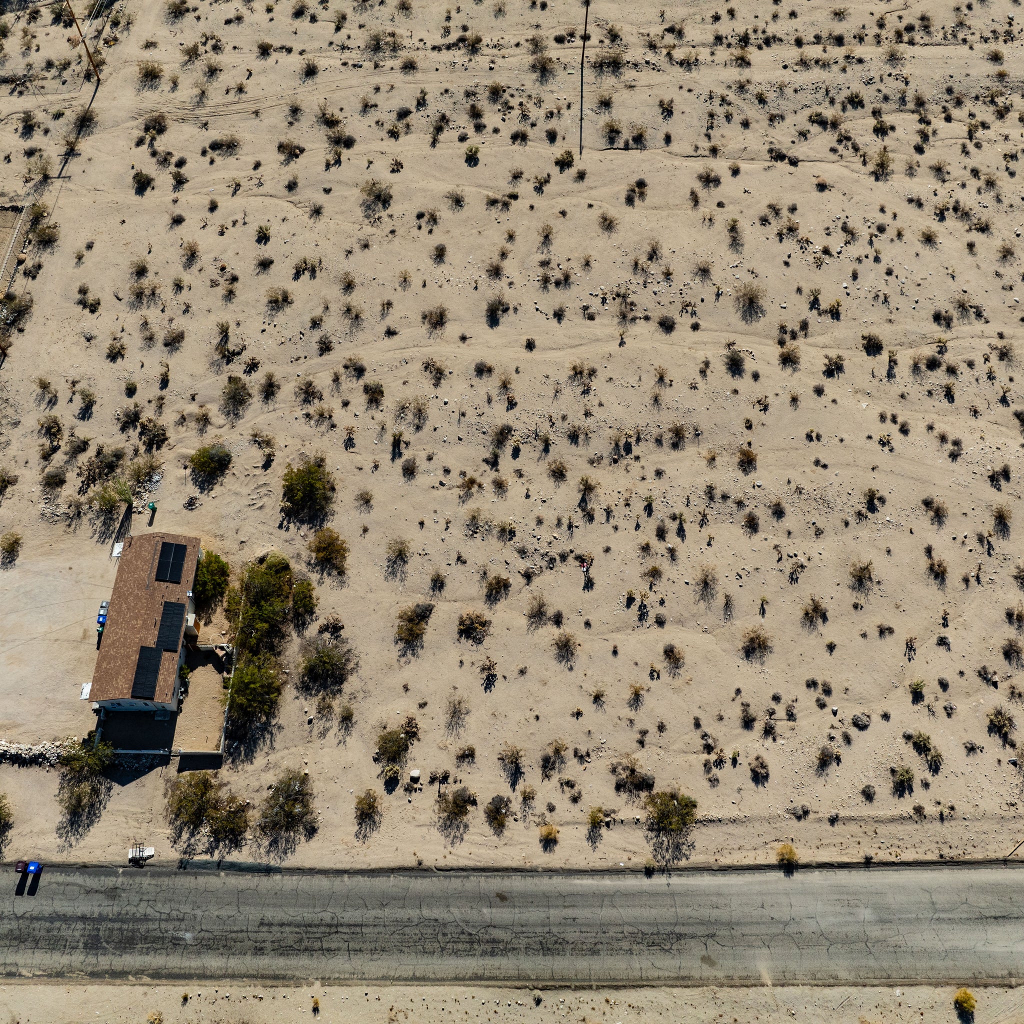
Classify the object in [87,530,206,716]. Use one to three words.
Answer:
house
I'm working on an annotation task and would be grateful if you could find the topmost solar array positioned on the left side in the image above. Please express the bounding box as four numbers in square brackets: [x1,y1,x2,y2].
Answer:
[154,543,189,584]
